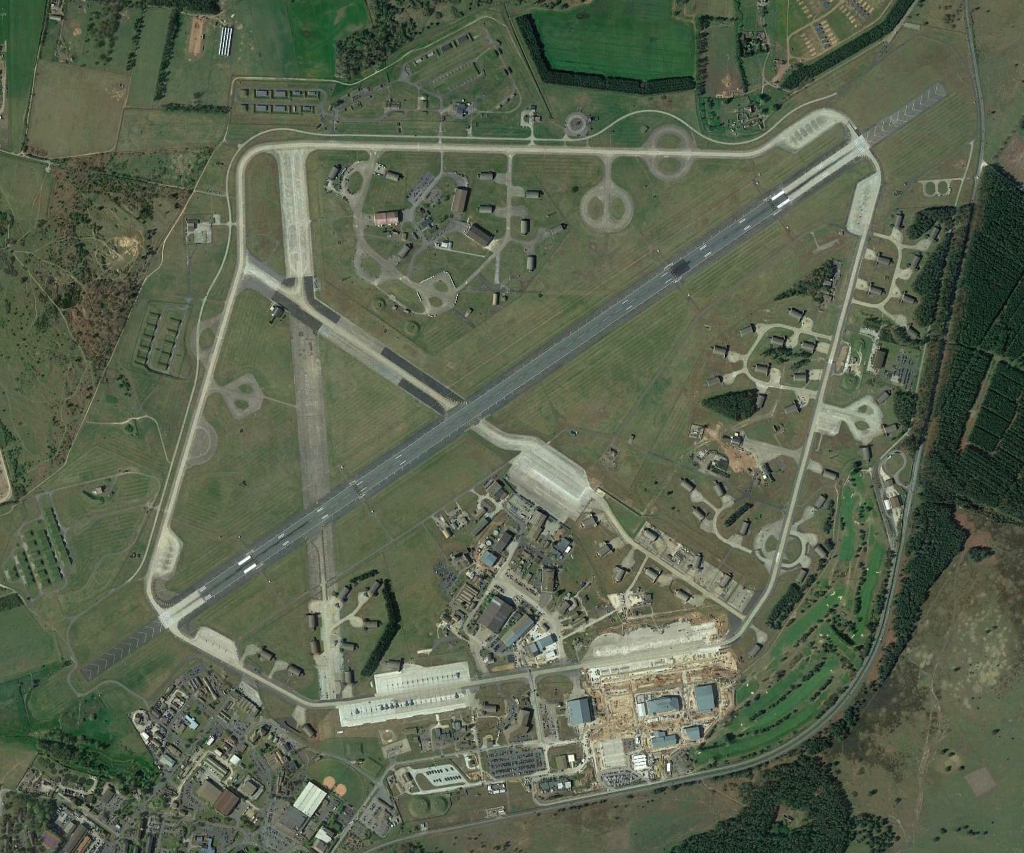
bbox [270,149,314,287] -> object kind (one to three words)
runway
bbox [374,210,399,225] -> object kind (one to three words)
hangar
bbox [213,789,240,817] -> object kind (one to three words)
hangar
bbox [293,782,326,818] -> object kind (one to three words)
building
